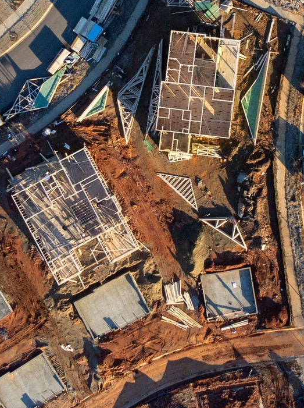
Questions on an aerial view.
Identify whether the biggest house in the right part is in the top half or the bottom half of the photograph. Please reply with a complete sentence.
Seen from above, the biggest house in the right part lies in the top half of the view.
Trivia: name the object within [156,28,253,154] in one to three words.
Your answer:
house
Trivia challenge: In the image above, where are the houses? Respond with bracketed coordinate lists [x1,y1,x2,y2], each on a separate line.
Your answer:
[8,144,150,288]
[156,28,253,154]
